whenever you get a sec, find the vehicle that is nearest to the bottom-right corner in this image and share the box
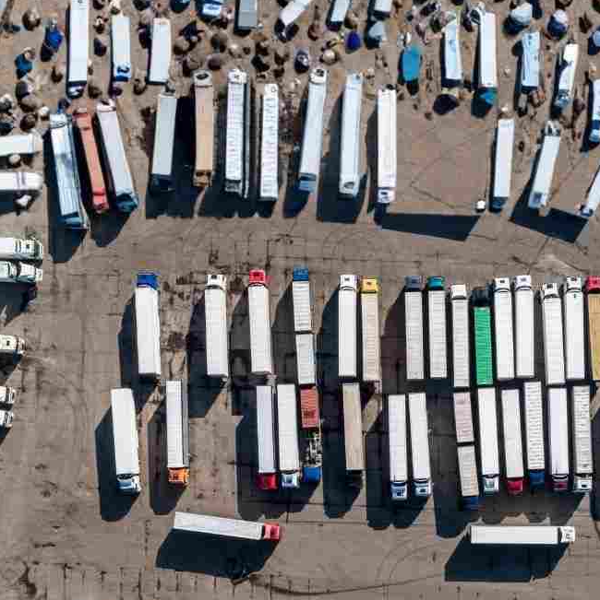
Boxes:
[468,525,574,547]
